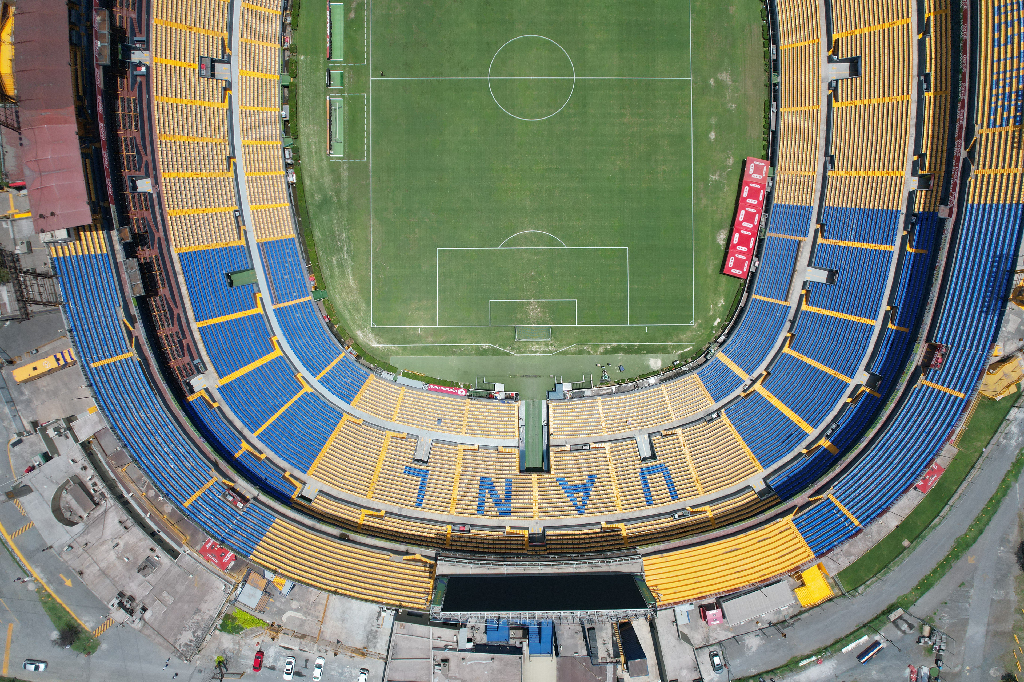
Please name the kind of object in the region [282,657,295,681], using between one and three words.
vehicle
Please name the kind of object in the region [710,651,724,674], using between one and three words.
car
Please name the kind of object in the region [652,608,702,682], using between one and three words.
building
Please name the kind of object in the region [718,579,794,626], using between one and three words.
shed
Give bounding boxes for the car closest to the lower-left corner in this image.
[22,659,45,672]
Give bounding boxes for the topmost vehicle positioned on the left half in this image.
[10,350,79,386]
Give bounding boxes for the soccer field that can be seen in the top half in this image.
[238,0,830,403]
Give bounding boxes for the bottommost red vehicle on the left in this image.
[251,651,264,672]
